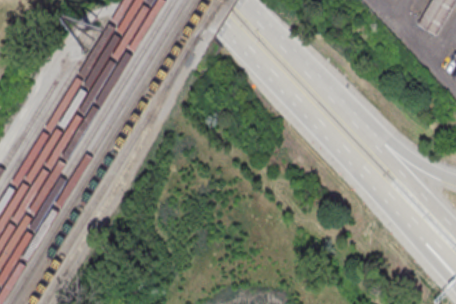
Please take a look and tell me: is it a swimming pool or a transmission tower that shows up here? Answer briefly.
transmission tower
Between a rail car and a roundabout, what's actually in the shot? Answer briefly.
rail car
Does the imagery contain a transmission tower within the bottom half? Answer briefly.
No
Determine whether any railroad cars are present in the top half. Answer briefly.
Yes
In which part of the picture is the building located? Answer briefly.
top right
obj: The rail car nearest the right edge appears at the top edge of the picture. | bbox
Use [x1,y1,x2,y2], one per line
[182,0,214,42]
